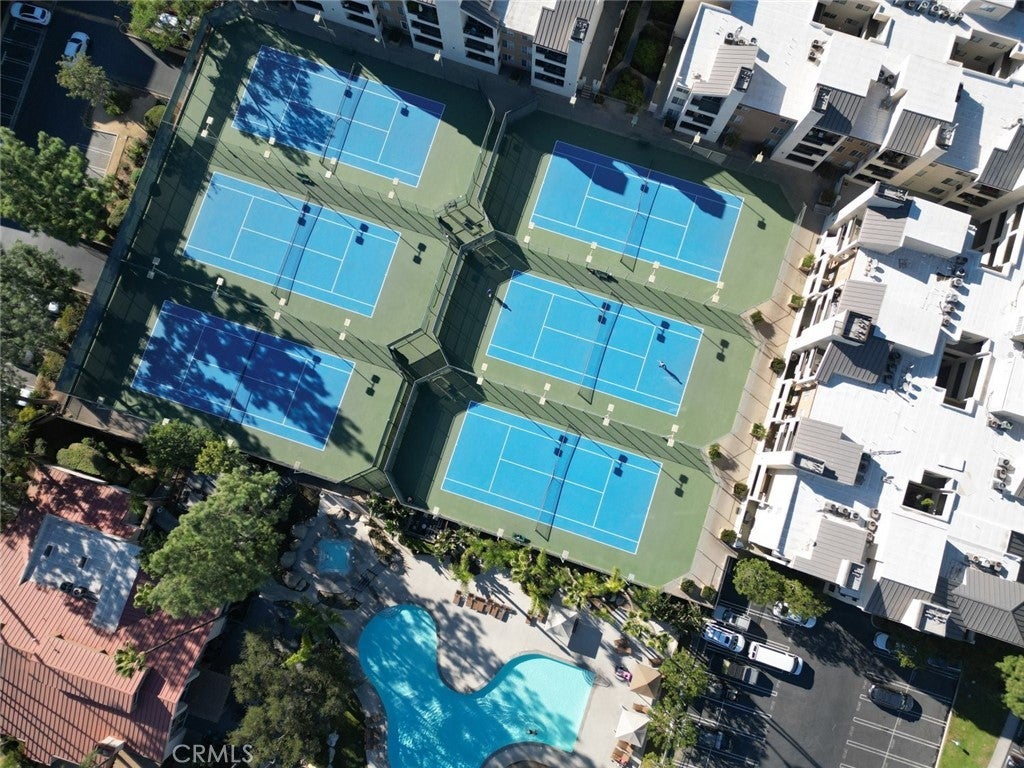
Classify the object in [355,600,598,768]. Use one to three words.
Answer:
swimming pool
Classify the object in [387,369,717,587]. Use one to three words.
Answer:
tennis court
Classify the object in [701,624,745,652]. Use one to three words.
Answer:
car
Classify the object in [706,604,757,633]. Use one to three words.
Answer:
truck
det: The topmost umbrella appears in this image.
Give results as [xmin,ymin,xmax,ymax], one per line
[543,604,579,644]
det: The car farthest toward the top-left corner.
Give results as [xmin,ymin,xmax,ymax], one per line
[11,2,53,28]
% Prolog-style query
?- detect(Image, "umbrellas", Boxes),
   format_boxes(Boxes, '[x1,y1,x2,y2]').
[614,708,650,746]
[629,663,662,698]
[543,604,579,644]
